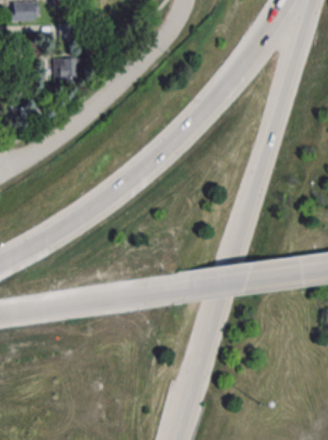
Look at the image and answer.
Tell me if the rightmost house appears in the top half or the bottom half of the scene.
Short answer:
top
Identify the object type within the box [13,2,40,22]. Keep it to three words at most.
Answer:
house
